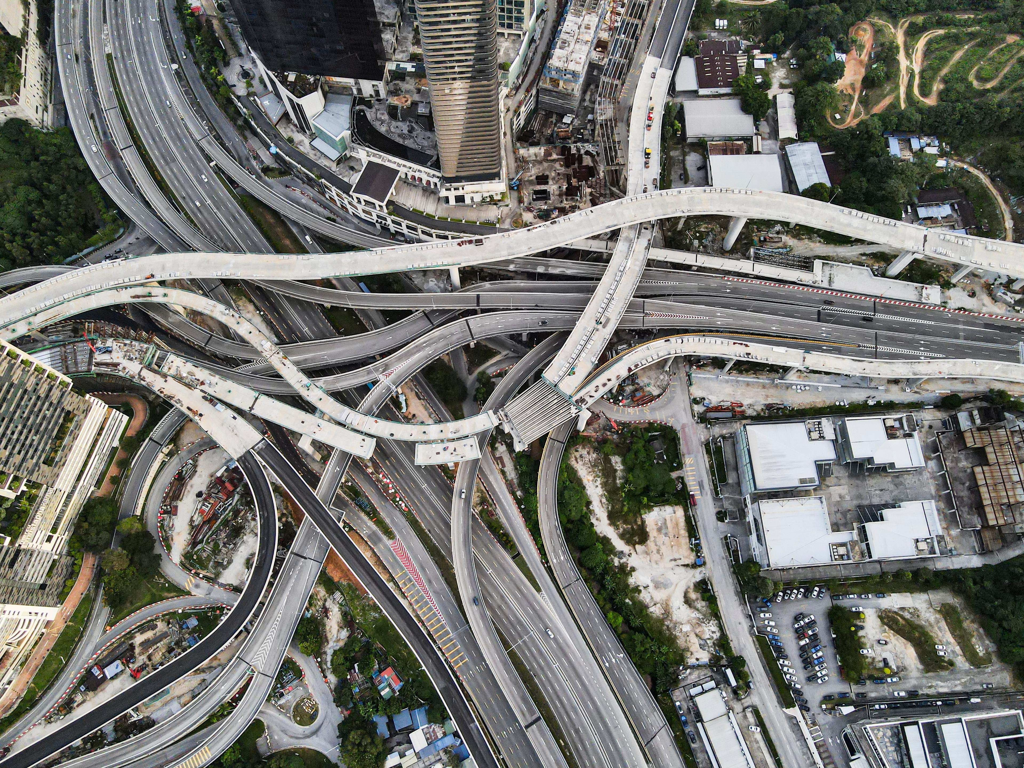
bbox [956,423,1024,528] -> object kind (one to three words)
shed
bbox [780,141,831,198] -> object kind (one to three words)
building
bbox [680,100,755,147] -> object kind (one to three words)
building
